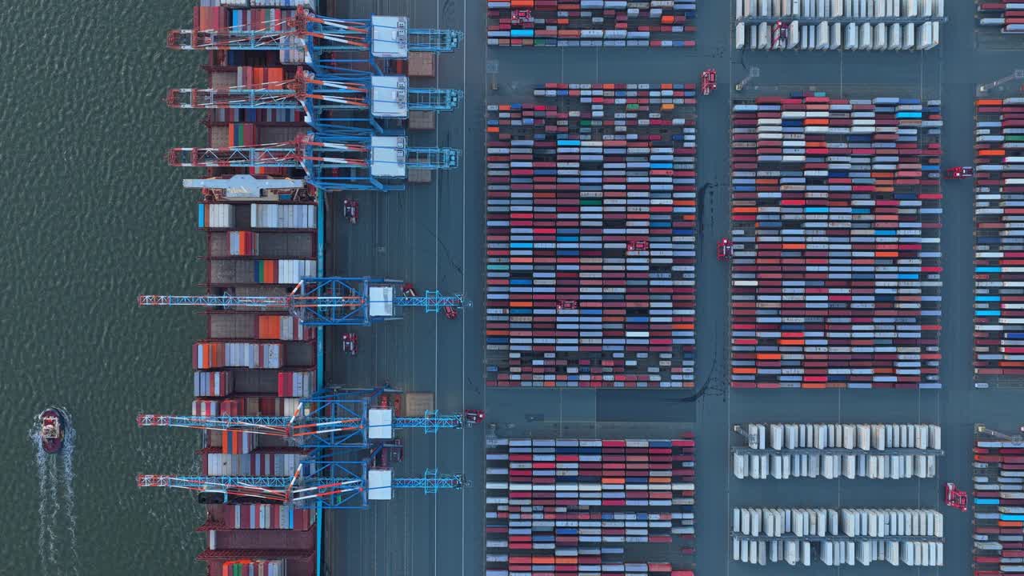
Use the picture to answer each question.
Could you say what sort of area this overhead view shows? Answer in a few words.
port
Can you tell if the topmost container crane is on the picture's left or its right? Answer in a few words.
left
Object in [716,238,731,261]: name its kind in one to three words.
work vehicle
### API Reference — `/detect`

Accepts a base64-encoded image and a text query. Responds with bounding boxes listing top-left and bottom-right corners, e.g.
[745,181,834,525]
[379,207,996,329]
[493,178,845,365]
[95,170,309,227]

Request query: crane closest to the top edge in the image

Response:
[161,8,462,88]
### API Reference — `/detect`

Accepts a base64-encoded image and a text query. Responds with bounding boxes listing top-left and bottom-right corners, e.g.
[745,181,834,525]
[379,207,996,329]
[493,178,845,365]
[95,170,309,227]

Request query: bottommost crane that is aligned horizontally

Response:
[135,434,467,510]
